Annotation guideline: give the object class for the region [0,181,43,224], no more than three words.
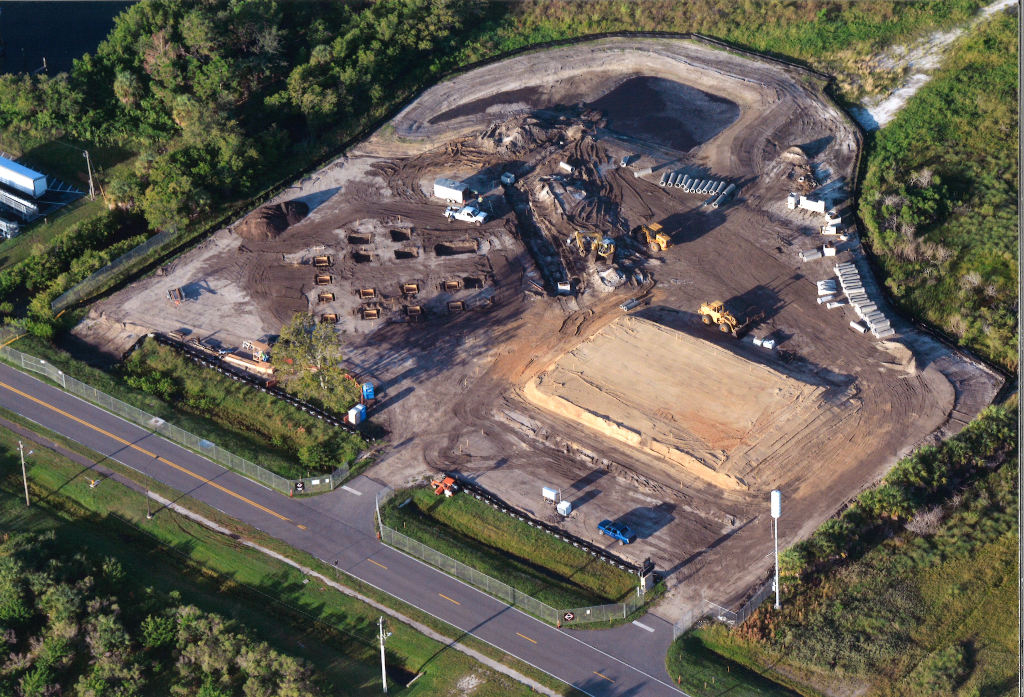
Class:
trailer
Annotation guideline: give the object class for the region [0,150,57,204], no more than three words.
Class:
trailer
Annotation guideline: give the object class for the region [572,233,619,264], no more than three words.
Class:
work vehicle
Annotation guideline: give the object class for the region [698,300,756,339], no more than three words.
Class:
work vehicle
